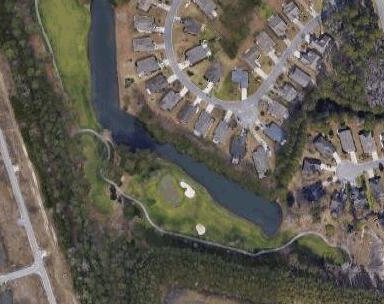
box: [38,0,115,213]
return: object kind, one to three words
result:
golf course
